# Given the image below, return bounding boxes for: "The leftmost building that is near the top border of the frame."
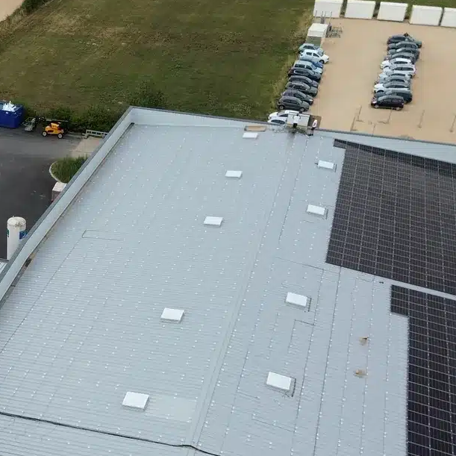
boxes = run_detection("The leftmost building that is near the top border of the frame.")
[315,0,345,17]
